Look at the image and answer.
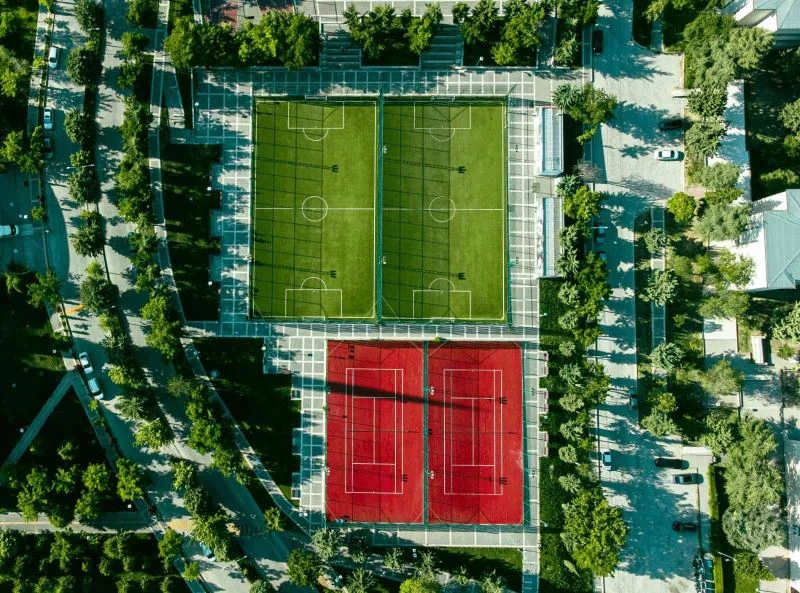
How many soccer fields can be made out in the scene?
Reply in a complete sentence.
The picture shows 2 soccer fields.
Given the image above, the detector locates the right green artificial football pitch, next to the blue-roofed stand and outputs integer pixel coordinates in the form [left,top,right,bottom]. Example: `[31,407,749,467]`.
[380,96,511,322]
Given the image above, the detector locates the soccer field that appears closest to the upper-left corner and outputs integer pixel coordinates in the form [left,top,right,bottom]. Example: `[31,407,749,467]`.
[250,95,376,321]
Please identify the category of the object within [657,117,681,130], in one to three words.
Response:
vehicle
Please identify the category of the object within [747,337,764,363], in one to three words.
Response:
shed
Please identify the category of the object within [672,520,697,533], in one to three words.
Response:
vehicle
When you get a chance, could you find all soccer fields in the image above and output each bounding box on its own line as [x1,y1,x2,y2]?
[380,96,511,322]
[250,95,376,321]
